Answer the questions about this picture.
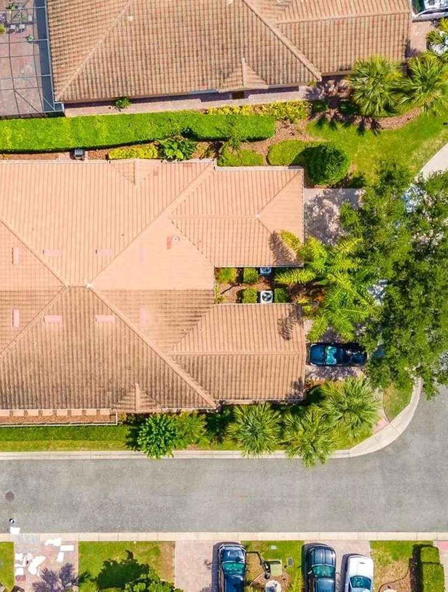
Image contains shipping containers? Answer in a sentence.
No, there's no shipping container here.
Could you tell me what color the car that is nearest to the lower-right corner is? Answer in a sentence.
In this view, the car that is nearest to the lower-right corner is white.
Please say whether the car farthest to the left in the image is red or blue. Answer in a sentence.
In this view, the car farthest to the left is blue.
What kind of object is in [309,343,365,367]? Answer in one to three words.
car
